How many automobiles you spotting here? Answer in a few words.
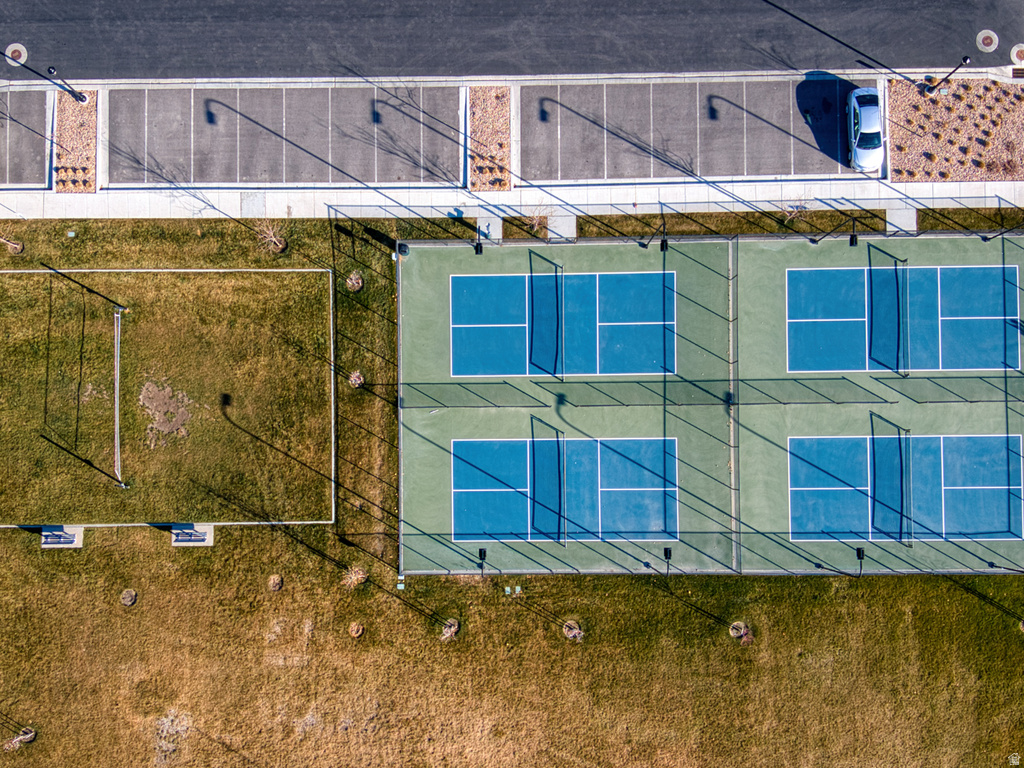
one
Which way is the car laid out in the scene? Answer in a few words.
up and down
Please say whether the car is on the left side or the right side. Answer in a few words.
right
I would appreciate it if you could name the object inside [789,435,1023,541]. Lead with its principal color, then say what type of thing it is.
blue sports court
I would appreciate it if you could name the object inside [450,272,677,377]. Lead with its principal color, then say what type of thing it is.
blue sports court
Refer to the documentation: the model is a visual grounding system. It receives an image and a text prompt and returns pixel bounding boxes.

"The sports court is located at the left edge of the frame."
[0,267,334,527]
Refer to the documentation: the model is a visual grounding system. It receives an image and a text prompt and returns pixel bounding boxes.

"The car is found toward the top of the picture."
[847,88,890,172]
